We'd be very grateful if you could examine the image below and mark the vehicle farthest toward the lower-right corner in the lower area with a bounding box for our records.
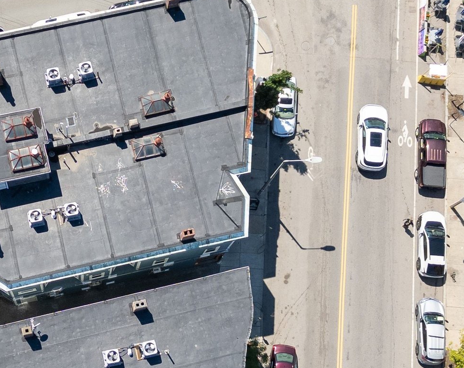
[415,298,449,365]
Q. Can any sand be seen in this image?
No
